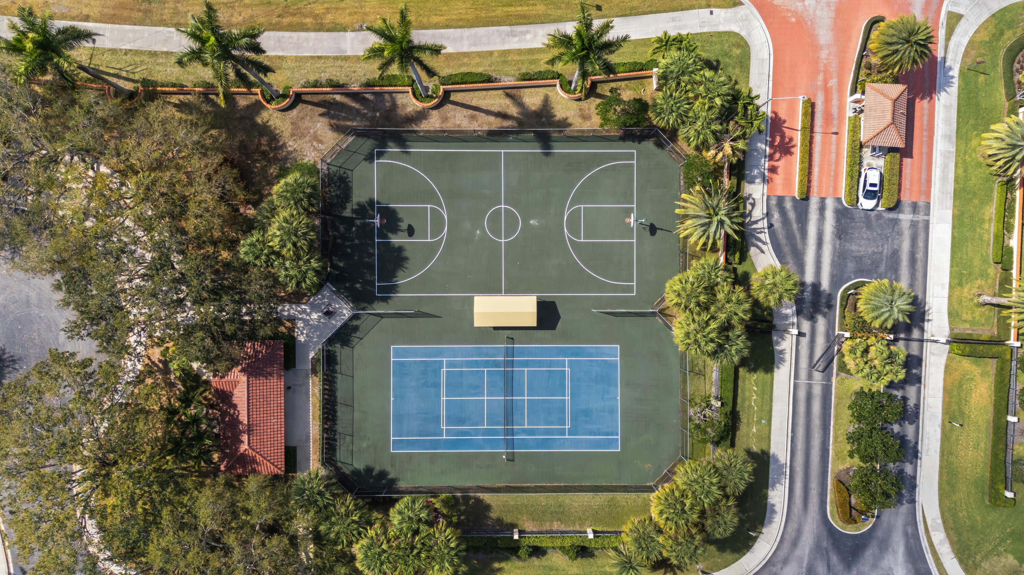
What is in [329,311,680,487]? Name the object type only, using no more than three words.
tennis court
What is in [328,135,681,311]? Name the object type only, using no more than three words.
basketball court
